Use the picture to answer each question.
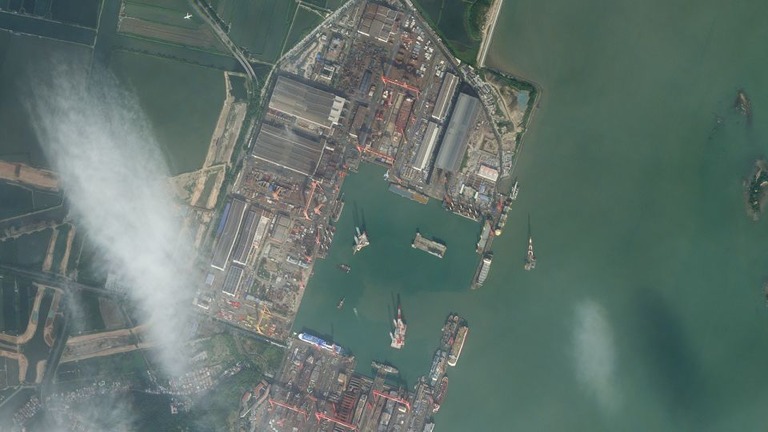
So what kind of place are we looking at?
port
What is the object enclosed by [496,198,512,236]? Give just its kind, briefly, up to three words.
ship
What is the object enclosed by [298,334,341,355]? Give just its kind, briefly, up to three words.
ship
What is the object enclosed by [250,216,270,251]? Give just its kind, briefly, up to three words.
building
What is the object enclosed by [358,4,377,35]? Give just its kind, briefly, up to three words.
building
